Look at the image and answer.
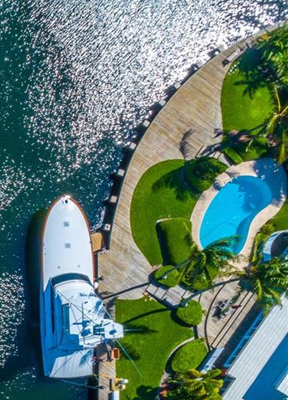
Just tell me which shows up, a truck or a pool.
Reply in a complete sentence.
There is a pool in the scene.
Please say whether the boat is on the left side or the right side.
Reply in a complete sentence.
The boat appears in the left half of the scene.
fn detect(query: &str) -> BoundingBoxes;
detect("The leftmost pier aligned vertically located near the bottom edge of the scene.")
[95,299,114,400]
